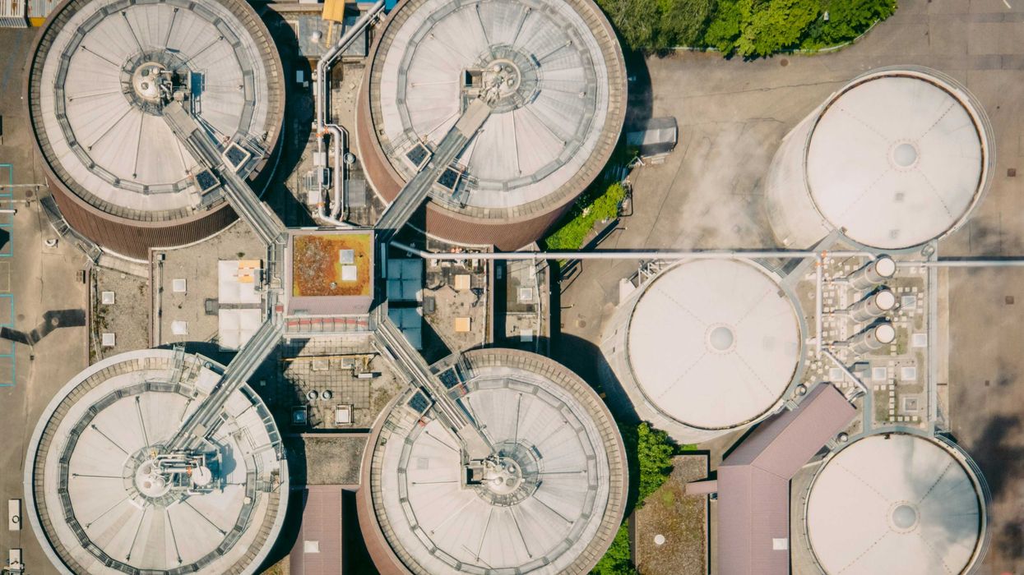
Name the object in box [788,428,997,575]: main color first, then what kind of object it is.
white storage tank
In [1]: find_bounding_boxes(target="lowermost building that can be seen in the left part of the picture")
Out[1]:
[289,487,342,575]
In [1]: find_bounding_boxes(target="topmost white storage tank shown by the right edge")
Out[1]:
[765,58,1001,257]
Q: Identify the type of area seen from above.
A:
industrial area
